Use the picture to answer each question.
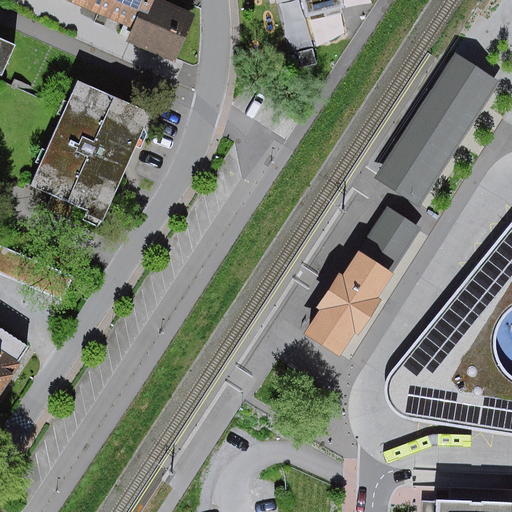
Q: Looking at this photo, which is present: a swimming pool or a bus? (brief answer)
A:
bus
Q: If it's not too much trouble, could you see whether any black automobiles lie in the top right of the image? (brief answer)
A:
No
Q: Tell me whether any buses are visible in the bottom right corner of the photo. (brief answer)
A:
Yes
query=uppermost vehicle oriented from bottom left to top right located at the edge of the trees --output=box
[246,94,265,118]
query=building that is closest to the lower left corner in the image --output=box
[0,328,28,395]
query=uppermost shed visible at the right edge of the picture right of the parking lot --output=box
[374,52,499,206]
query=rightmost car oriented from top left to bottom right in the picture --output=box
[226,432,250,450]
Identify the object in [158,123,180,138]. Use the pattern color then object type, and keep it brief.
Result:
gray car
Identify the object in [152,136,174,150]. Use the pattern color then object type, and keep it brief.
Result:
white vehicle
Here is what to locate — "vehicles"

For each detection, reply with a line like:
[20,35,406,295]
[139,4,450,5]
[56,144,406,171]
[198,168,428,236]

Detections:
[254,501,276,512]
[162,111,182,125]
[152,136,174,150]
[380,434,472,466]
[392,470,412,482]
[246,94,265,118]
[356,488,366,512]
[138,151,164,167]
[158,123,180,138]
[226,432,250,450]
